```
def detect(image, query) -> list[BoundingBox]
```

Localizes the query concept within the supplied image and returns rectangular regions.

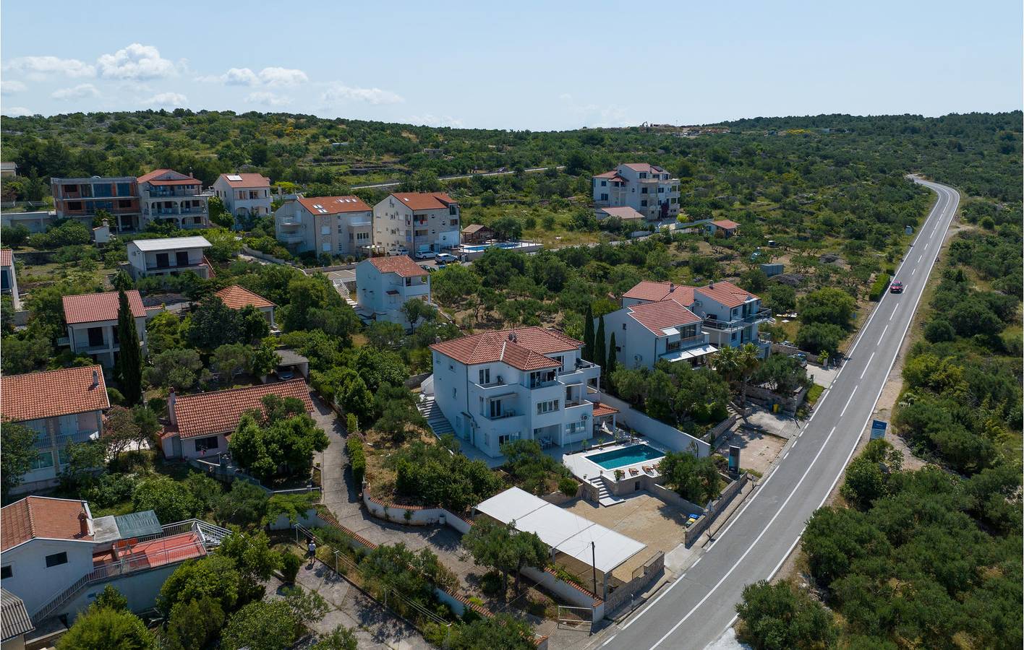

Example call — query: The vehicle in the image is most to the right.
[889,279,904,291]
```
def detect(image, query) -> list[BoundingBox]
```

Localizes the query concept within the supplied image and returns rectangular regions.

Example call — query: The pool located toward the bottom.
[582,442,671,471]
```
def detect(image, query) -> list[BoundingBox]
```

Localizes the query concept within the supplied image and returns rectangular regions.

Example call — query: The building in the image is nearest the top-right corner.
[709,217,741,235]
